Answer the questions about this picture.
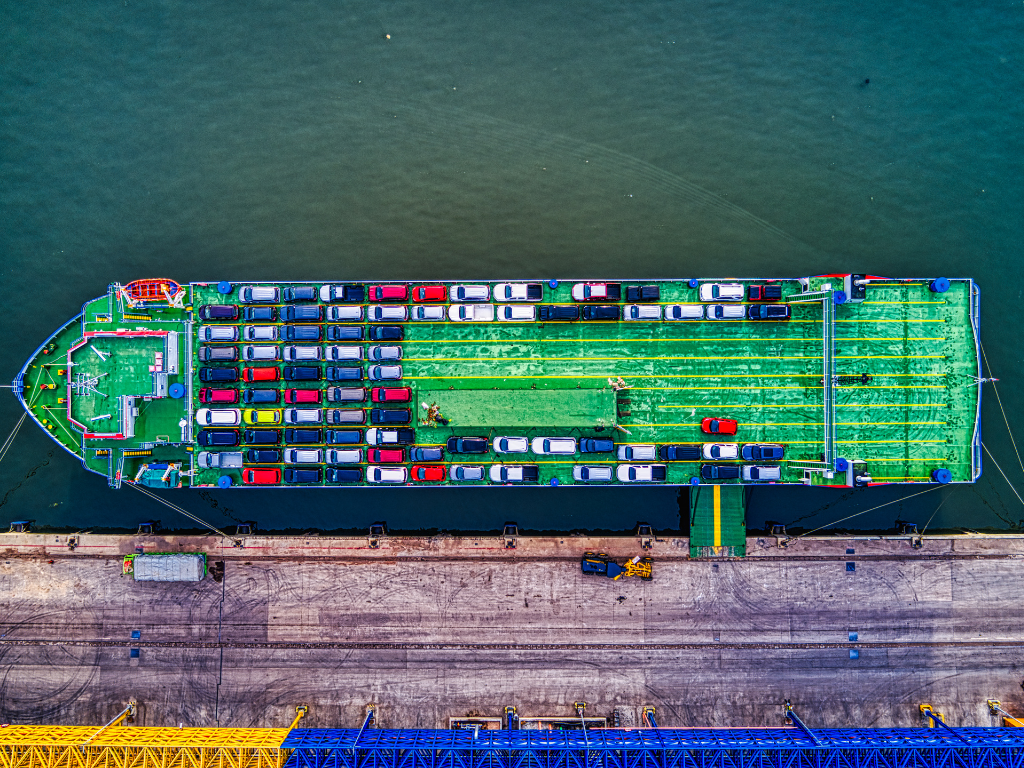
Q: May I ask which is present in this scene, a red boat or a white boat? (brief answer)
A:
red boat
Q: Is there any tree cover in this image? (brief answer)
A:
No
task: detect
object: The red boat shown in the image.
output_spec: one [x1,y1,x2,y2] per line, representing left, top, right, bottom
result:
[125,279,183,301]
